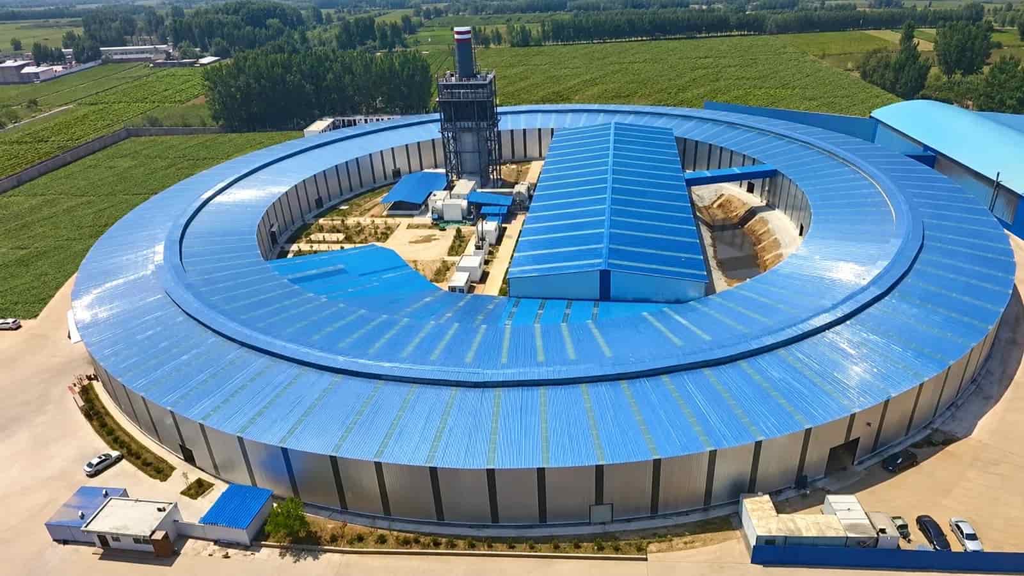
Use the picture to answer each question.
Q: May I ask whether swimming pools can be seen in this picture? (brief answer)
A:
No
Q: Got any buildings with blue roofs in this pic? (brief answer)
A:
Yes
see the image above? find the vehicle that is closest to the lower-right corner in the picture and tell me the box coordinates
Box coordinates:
[954,513,992,549]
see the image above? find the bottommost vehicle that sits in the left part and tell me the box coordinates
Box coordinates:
[82,451,123,474]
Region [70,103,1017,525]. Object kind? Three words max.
building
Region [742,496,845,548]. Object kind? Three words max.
building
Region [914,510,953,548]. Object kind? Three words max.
car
